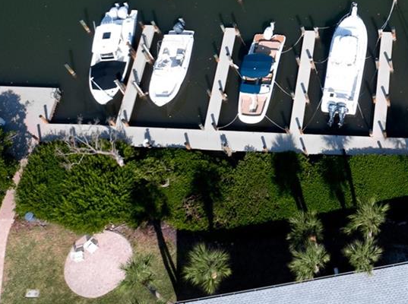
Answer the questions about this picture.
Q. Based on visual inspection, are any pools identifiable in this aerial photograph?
No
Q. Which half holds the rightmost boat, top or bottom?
top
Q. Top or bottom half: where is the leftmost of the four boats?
top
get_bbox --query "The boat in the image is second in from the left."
[152,18,197,109]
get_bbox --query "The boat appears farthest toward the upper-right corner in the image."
[319,2,370,135]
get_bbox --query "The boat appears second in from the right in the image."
[241,23,285,125]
